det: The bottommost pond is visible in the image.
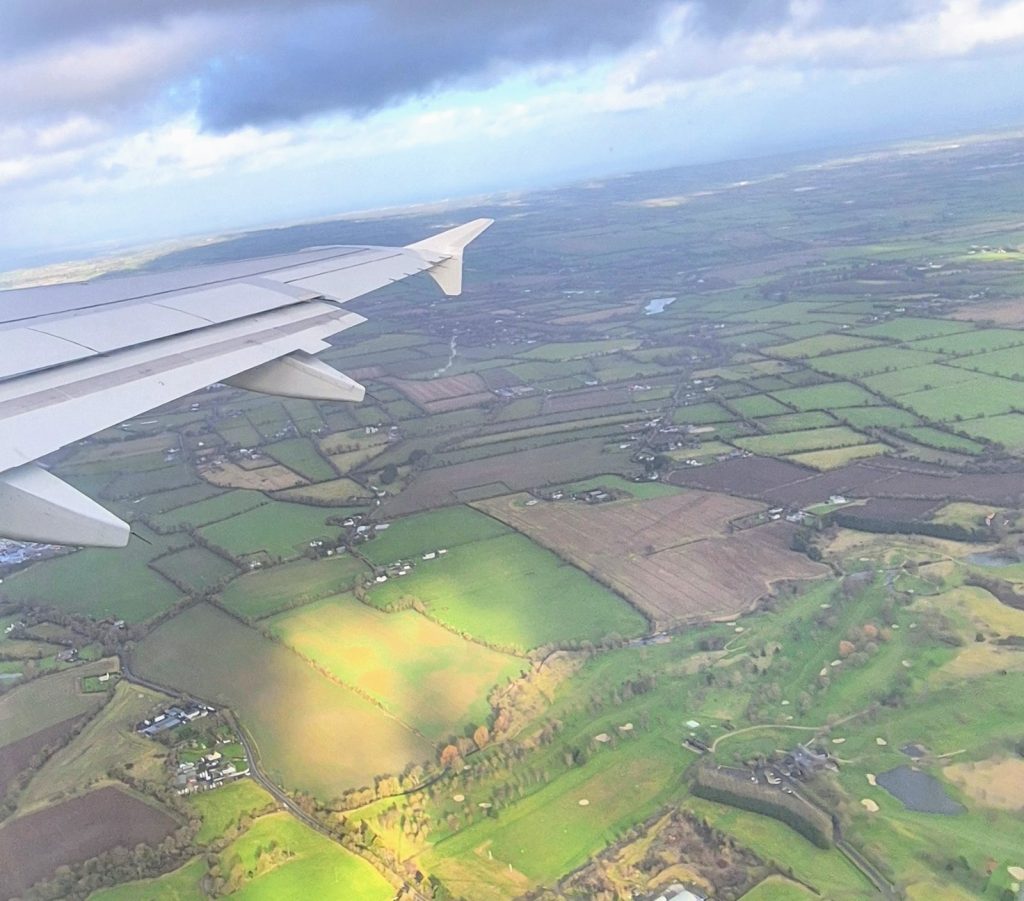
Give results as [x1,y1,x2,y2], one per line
[875,765,968,814]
